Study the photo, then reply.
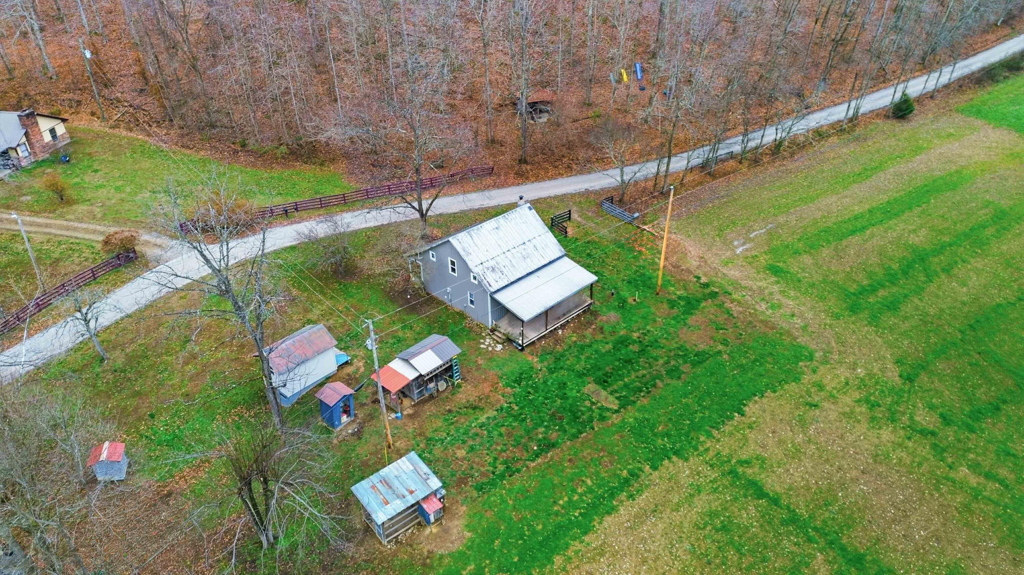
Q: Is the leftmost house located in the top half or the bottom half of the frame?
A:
top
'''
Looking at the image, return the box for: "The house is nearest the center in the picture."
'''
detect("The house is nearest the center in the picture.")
[403,195,600,347]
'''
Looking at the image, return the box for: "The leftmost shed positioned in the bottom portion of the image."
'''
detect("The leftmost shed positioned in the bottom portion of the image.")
[85,436,136,481]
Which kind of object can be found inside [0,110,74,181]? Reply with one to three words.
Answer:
house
